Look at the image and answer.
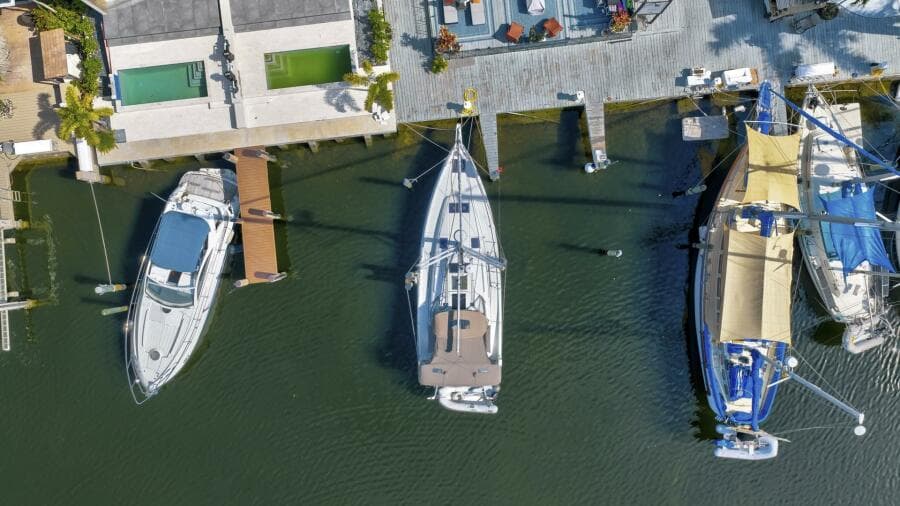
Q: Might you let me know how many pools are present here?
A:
two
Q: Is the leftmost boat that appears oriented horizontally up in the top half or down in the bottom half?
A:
bottom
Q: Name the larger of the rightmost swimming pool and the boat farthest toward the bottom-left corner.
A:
the boat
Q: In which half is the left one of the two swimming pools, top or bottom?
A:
top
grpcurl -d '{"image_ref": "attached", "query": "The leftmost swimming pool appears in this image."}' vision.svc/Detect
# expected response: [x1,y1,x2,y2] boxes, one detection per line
[114,58,214,108]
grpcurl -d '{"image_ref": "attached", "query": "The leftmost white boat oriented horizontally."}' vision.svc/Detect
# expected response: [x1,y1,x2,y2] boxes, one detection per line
[435,387,502,414]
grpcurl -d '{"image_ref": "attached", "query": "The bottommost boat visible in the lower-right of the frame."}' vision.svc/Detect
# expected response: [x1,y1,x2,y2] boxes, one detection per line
[711,425,783,460]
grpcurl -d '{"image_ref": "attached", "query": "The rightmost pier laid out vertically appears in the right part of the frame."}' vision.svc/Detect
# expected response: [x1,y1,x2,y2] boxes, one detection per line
[771,87,790,134]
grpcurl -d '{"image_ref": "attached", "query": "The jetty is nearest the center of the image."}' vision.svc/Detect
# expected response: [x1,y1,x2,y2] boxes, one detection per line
[478,116,499,180]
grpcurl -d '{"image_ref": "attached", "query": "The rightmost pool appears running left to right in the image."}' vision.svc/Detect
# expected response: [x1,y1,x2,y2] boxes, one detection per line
[258,41,356,92]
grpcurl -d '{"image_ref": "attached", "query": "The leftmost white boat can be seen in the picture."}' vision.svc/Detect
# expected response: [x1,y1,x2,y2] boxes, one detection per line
[127,168,240,403]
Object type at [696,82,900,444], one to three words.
boat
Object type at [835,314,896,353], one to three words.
boat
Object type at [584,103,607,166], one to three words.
pier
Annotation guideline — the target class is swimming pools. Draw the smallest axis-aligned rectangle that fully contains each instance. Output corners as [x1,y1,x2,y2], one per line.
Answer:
[114,58,214,108]
[258,41,356,92]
